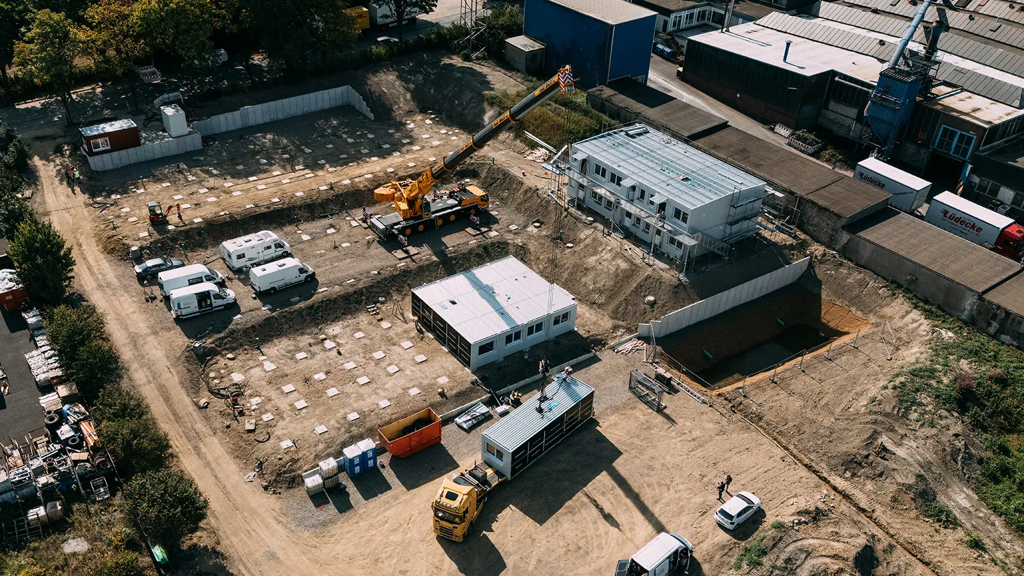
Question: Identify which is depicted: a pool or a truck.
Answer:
truck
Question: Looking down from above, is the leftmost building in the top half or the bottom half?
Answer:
top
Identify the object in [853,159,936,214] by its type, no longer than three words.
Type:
trailer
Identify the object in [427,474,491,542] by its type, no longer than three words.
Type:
truck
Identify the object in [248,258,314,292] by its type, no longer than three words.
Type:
van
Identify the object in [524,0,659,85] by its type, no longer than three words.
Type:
building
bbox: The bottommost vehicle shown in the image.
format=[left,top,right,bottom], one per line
[614,530,692,576]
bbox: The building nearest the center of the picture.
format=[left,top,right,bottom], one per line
[408,257,577,375]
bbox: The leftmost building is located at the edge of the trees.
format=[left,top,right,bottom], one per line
[78,119,141,157]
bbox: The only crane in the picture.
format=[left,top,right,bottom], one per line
[364,63,572,249]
